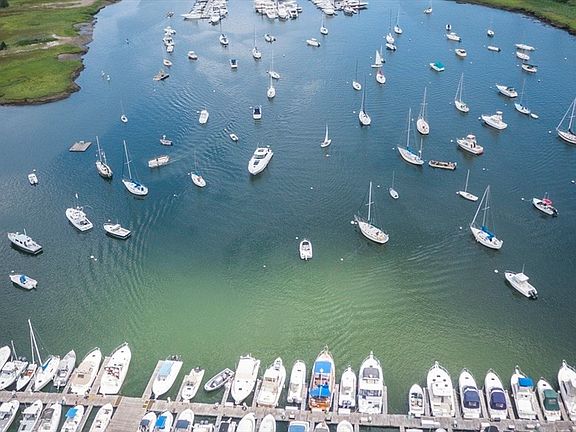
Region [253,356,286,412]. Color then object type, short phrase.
white boat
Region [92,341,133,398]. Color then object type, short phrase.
white boat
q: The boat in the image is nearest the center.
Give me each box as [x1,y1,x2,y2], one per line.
[298,238,312,260]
